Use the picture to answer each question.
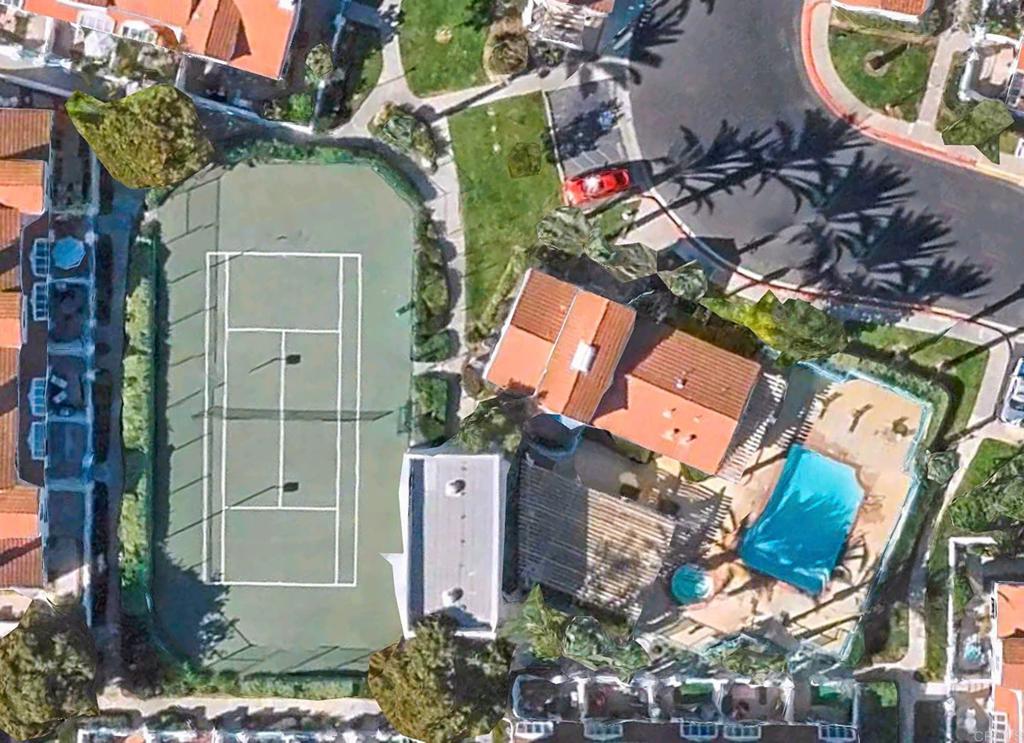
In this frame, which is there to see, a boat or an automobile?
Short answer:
automobile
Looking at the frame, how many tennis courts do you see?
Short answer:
1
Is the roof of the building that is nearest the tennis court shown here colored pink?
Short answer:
No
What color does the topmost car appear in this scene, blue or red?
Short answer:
red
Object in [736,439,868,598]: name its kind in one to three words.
swimming pool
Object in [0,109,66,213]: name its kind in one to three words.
house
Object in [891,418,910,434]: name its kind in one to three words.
umbrella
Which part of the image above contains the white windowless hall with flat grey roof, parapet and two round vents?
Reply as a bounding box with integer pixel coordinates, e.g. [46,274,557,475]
[399,453,497,634]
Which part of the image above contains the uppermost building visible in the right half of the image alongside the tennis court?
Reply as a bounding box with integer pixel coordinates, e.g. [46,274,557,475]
[484,268,762,475]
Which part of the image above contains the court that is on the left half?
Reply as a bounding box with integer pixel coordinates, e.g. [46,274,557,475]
[154,161,414,673]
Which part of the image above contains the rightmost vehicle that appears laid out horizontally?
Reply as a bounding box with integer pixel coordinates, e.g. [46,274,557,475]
[563,166,634,204]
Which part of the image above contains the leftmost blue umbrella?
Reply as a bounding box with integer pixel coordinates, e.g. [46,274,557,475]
[54,237,86,269]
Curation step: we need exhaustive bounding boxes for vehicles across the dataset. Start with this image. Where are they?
[563,166,634,204]
[1002,356,1024,424]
